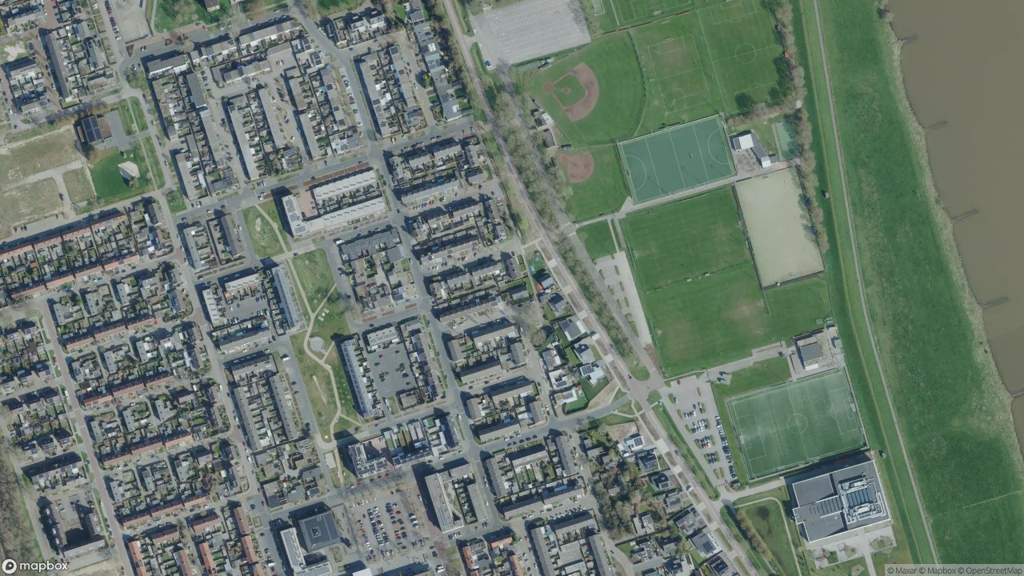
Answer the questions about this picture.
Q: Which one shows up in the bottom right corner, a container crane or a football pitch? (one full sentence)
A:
Visible in the bottom right corner is a football pitch.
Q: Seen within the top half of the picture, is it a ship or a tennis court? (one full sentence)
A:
What appears within the top half of the picture is a tennis court.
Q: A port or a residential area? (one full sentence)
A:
This image shows a residential area.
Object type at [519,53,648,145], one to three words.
baseball field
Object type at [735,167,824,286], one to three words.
sports field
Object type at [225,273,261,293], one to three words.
building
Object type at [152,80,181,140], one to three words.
house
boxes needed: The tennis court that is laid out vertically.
[773,121,797,161]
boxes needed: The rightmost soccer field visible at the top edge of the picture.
[695,0,800,112]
